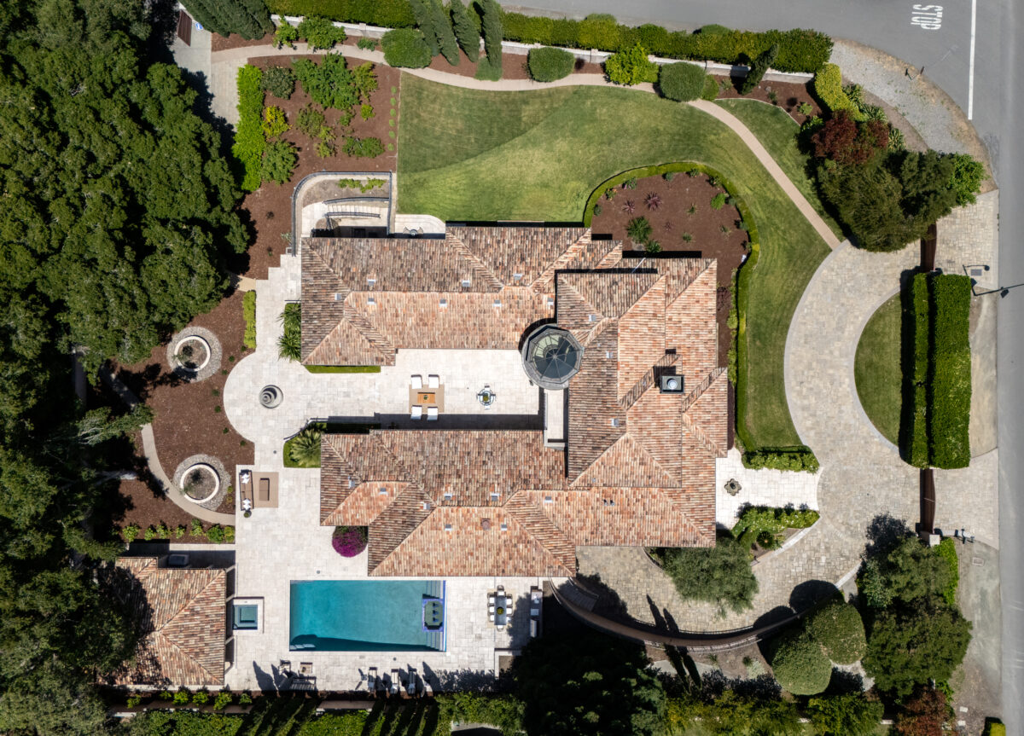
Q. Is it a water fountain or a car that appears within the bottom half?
water fountain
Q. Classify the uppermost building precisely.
house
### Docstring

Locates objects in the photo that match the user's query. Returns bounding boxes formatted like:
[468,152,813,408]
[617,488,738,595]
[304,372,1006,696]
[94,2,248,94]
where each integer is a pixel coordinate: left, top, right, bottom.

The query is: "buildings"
[300,225,728,577]
[94,554,238,687]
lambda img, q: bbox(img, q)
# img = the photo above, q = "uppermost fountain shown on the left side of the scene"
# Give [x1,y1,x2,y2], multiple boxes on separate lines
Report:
[257,385,283,409]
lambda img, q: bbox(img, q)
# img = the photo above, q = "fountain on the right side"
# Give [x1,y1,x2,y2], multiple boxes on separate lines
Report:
[725,479,743,496]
